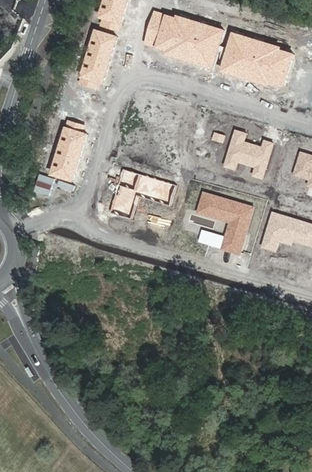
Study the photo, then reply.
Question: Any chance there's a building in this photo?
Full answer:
Yes, I can see a building in this picture.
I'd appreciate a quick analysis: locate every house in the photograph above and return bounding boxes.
[48,120,87,182]
[224,129,274,178]
[97,0,129,31]
[110,168,177,218]
[196,191,254,254]
[220,32,295,87]
[78,28,117,90]
[294,152,312,185]
[262,212,312,255]
[144,10,224,72]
